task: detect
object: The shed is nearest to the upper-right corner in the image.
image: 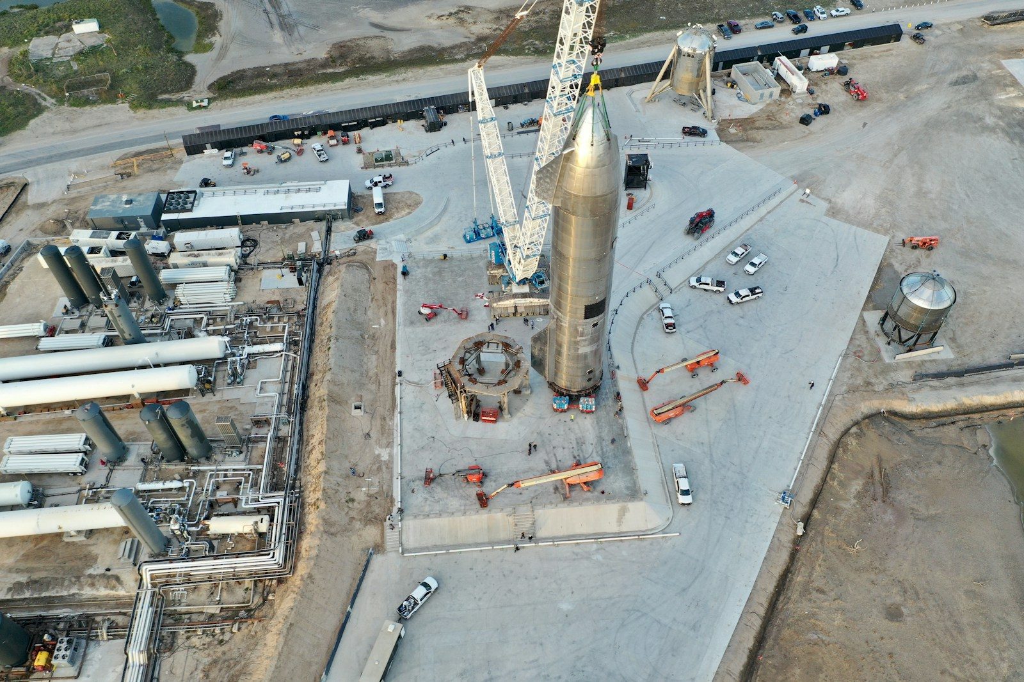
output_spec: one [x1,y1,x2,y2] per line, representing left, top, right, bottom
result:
[751,18,905,64]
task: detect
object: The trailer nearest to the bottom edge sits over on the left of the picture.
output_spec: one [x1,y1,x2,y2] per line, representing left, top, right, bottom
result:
[357,617,402,682]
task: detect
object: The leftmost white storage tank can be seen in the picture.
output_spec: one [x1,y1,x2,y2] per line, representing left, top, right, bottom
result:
[0,480,43,511]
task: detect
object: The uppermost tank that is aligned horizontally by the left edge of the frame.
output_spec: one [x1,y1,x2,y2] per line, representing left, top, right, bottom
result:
[0,338,233,383]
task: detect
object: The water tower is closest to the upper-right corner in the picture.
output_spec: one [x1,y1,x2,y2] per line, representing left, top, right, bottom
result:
[881,274,960,358]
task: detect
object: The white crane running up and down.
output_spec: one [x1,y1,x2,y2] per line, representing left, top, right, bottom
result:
[471,0,604,307]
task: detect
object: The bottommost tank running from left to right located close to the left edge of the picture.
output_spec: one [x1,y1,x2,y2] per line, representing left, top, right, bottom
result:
[0,502,131,545]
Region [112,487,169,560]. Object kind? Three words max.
storage tank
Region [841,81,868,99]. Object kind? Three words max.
work vehicle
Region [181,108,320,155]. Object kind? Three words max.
shed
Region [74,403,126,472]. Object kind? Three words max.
storage tank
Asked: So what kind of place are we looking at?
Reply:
industrial area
